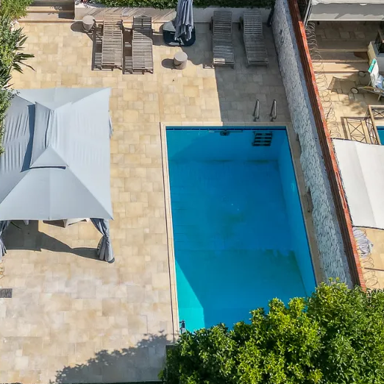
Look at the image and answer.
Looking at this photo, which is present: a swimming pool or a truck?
swimming pool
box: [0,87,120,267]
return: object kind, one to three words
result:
gazebo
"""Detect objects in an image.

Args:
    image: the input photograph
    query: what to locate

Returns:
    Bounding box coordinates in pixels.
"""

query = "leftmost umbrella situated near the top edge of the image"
[163,0,194,45]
